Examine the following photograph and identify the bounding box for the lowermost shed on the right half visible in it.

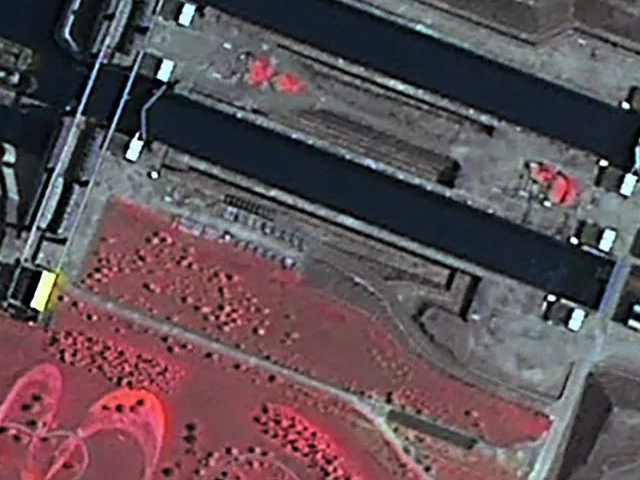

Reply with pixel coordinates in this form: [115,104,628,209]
[386,407,479,451]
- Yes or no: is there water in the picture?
Yes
